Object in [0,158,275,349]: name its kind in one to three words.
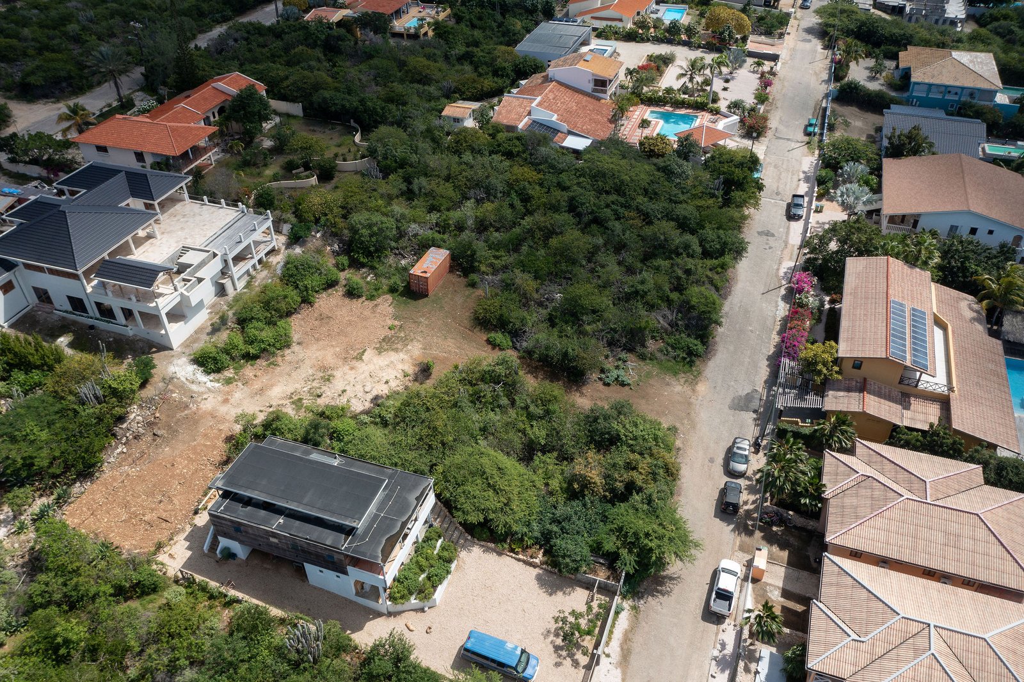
house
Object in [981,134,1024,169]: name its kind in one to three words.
swimming pool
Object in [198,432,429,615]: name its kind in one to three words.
house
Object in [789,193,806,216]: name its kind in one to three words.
vehicle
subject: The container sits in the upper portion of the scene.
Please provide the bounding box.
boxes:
[410,248,451,295]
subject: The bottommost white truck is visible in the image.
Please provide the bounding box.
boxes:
[708,560,743,623]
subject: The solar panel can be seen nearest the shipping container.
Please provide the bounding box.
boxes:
[526,119,558,140]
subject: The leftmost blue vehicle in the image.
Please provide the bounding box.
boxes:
[462,629,540,682]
